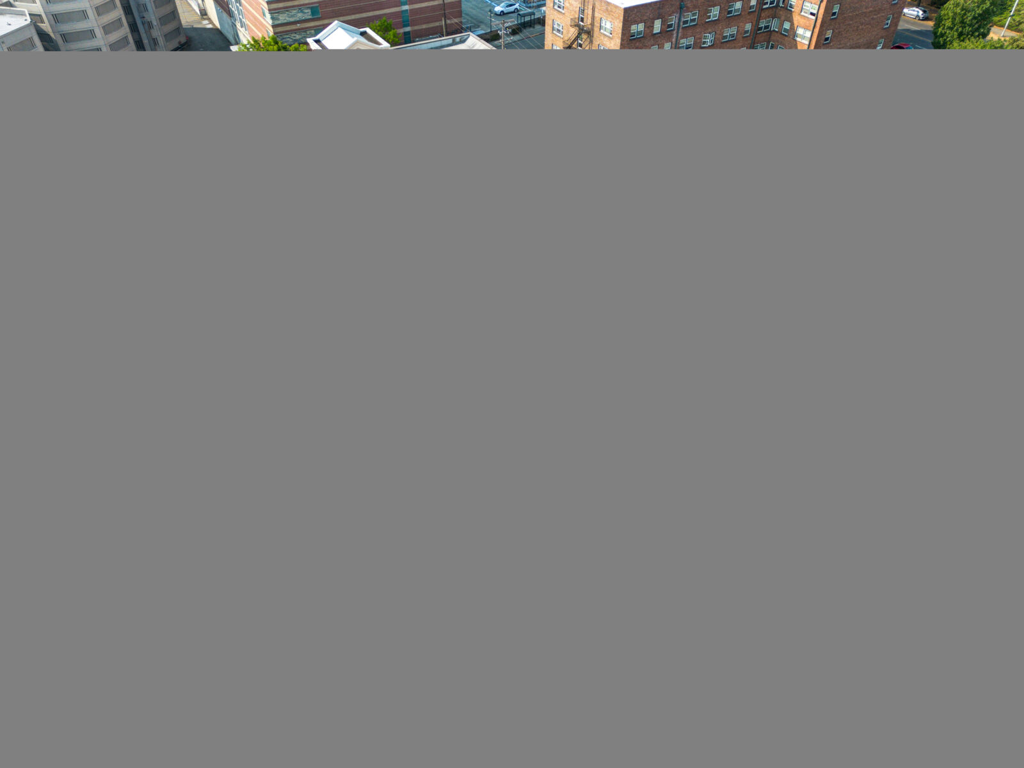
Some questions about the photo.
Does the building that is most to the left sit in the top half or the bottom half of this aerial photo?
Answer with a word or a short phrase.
top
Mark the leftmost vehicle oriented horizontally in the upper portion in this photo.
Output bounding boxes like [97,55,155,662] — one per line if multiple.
[494,2,520,15]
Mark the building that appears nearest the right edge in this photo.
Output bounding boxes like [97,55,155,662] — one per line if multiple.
[544,0,907,147]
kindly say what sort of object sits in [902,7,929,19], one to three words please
vehicle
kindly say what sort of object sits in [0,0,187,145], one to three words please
building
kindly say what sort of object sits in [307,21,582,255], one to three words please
building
